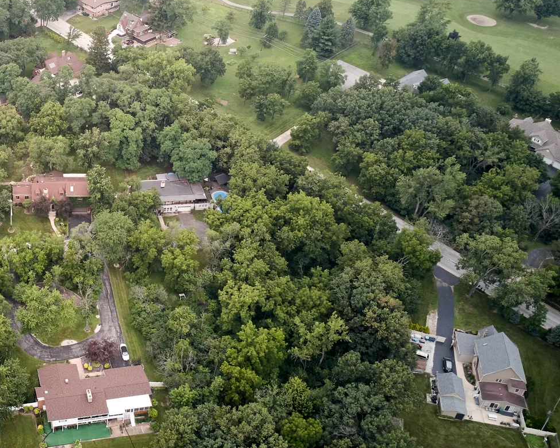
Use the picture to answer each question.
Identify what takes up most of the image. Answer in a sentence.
Most of the picture is covered by trees.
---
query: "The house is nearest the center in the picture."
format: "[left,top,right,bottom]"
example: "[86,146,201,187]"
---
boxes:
[132,174,216,213]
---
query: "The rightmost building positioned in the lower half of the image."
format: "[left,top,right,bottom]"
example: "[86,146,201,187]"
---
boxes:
[449,316,528,412]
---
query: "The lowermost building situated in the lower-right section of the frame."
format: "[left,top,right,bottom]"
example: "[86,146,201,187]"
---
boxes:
[429,369,467,421]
